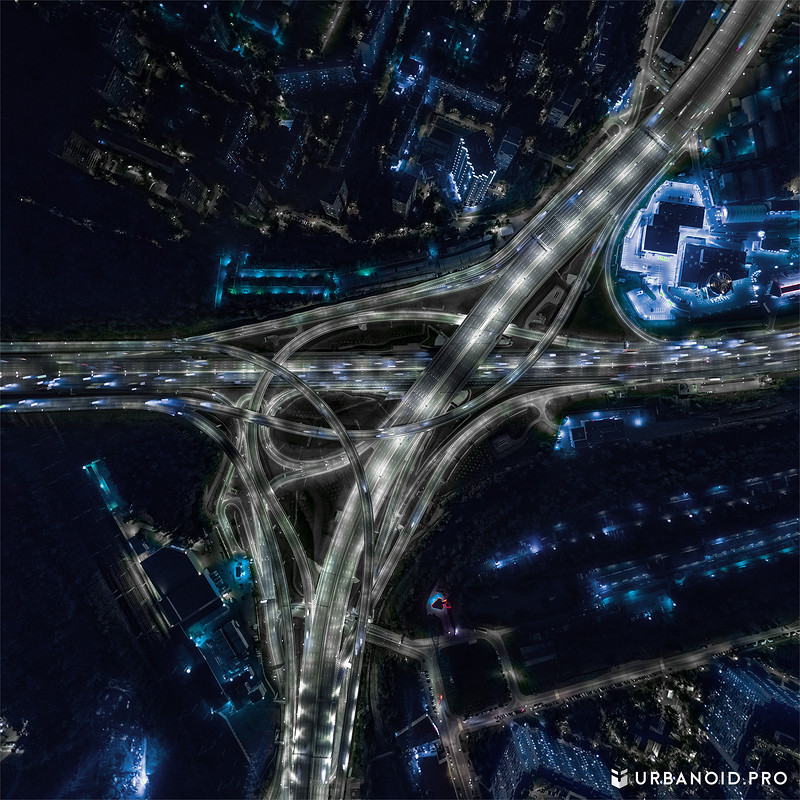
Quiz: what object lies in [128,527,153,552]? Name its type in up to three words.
shed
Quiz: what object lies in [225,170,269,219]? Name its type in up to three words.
building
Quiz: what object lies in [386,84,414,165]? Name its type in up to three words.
building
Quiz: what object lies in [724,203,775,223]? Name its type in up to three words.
hangar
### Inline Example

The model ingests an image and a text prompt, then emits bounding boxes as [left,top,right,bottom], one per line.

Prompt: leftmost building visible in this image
[38,120,100,176]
